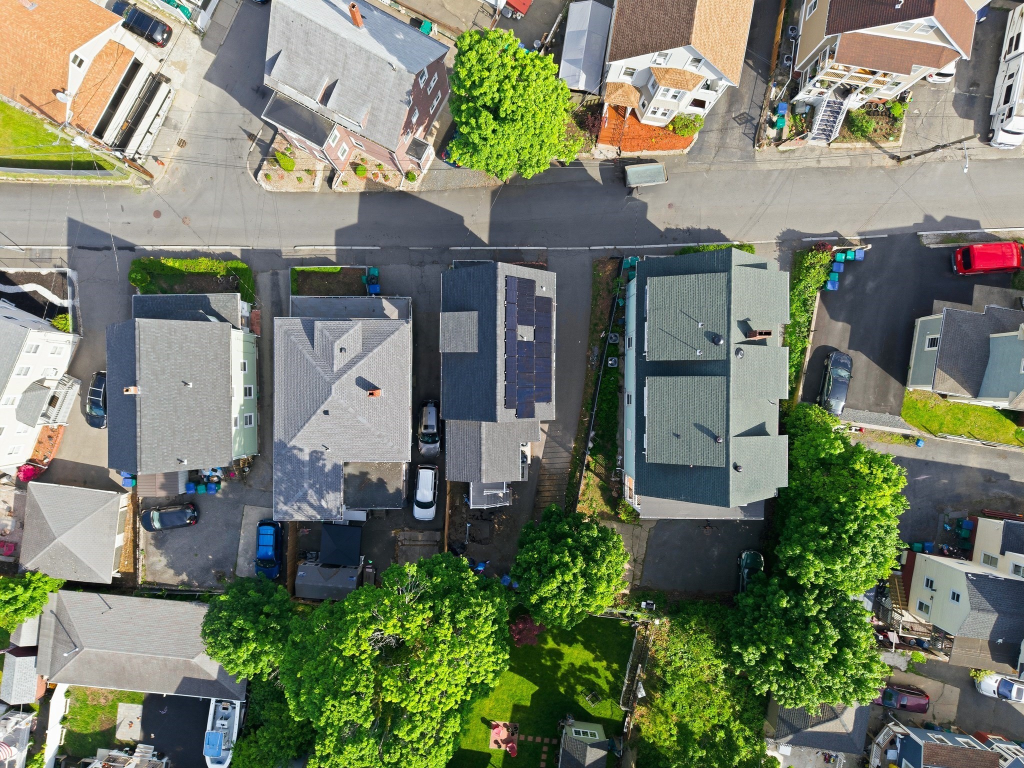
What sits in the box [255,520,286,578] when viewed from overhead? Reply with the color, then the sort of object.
blue car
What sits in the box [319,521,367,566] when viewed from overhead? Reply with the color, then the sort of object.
black gazebo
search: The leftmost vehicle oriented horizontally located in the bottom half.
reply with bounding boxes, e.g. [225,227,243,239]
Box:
[143,502,199,533]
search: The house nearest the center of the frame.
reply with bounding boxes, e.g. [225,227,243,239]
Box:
[439,260,557,511]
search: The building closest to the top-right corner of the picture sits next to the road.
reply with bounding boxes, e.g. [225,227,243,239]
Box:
[777,0,978,143]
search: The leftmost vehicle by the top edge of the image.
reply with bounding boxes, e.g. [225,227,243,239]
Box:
[116,3,176,46]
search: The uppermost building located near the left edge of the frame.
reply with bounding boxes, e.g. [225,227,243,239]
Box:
[0,0,173,157]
